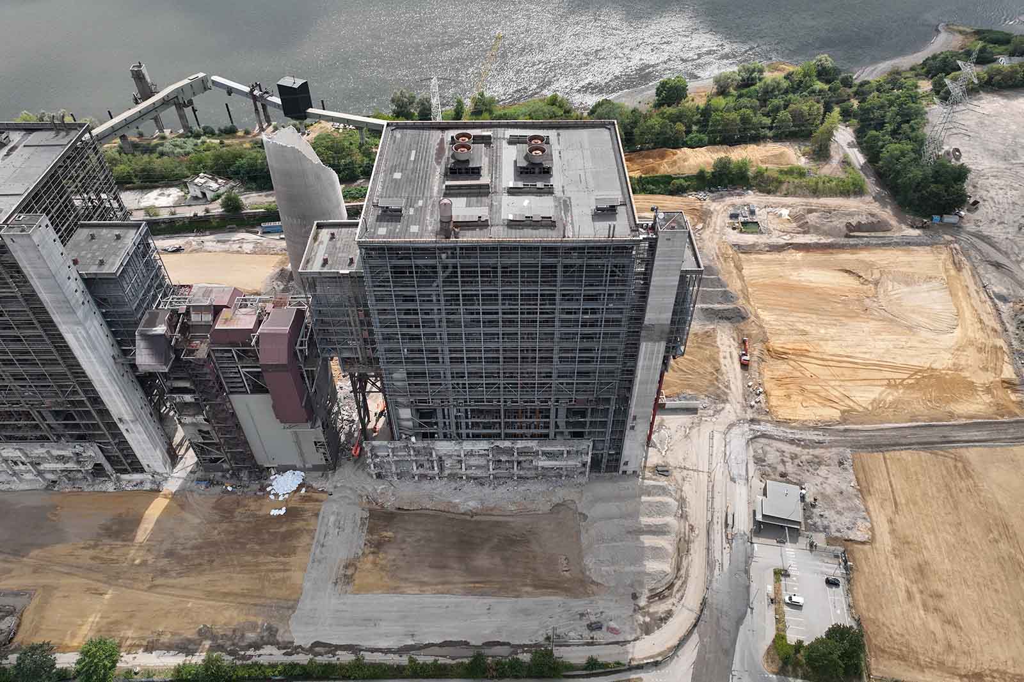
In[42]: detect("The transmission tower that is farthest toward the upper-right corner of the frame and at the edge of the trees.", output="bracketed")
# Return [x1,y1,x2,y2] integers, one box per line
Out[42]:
[932,46,998,157]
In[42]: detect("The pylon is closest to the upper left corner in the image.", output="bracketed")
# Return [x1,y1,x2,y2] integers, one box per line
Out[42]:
[419,72,455,118]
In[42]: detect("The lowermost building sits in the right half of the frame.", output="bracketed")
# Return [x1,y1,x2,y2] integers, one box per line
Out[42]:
[762,480,814,536]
